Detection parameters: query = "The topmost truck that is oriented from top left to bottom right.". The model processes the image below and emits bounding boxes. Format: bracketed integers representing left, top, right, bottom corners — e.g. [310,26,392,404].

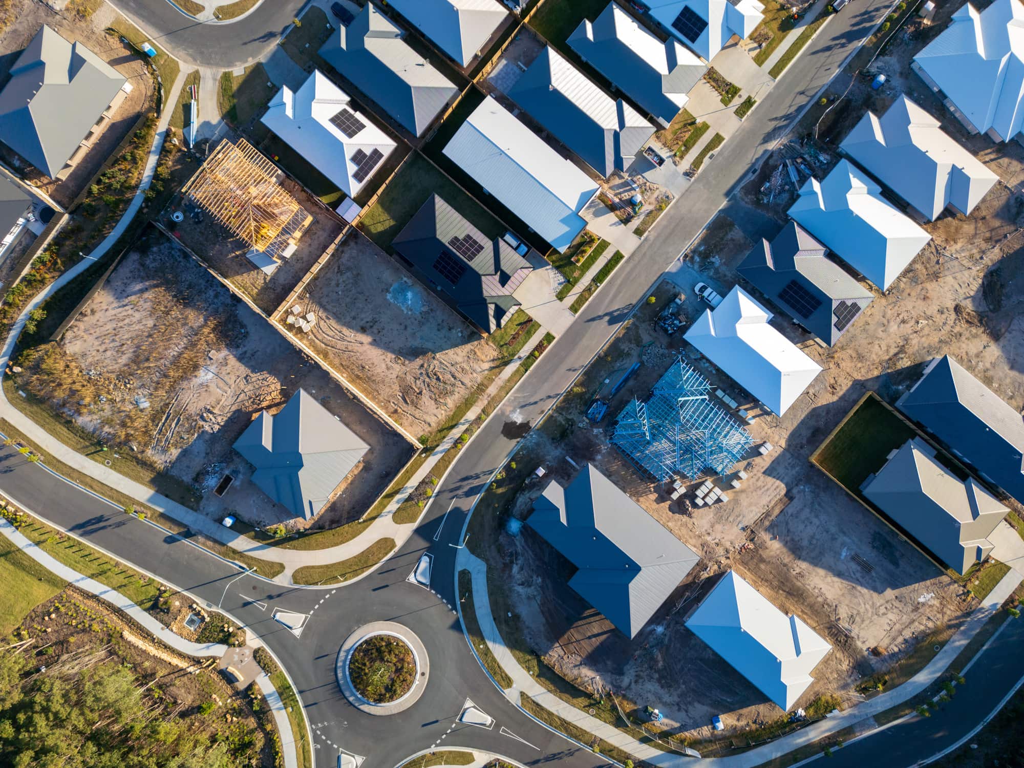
[328,0,354,27]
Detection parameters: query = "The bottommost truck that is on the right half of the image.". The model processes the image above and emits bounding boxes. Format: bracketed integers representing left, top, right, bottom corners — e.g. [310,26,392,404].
[696,282,724,308]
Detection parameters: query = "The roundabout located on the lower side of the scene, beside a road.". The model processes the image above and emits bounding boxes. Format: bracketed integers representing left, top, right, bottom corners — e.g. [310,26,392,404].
[336,621,429,715]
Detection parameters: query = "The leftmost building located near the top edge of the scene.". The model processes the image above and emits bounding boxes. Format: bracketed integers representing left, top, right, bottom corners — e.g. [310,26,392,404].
[0,24,133,185]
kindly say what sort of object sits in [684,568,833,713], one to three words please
house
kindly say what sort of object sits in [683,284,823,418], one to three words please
house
